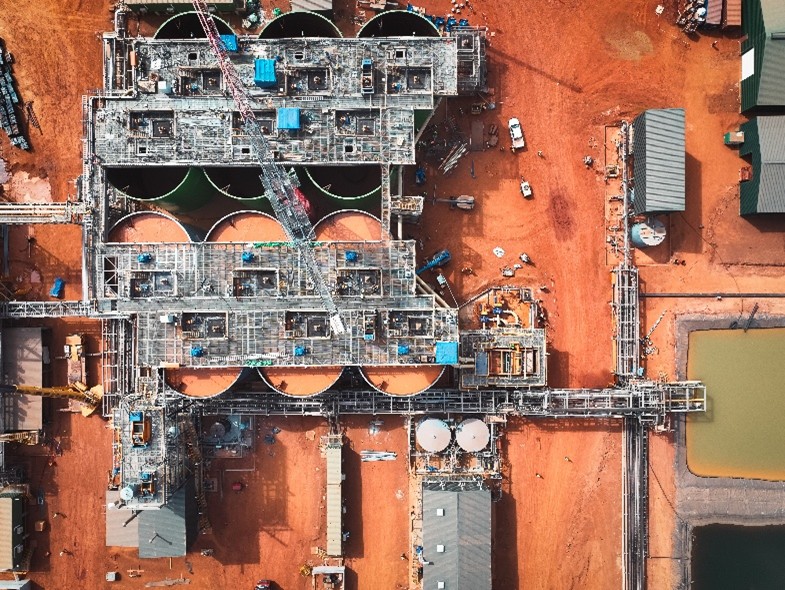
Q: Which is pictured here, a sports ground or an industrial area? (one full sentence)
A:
The area seen from above is an industrial area.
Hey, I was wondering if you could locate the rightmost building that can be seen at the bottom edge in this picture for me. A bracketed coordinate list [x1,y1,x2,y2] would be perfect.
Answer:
[419,476,491,590]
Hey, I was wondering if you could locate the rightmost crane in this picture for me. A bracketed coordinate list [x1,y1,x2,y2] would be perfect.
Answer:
[184,0,347,336]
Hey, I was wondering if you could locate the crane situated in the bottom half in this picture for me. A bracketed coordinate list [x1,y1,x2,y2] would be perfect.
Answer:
[0,337,109,417]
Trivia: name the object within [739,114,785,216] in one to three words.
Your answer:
building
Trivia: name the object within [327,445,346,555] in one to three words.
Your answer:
building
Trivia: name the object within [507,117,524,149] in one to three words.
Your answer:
vehicle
